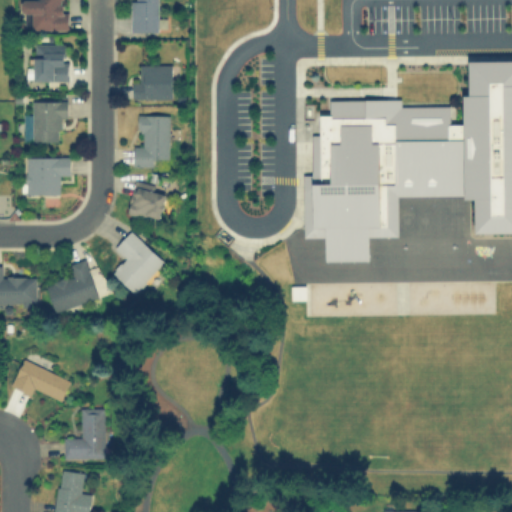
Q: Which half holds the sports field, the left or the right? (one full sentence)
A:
The sports field sits on the right side.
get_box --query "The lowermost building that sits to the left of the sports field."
[55,470,92,512]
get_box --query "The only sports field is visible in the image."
[255,282,512,512]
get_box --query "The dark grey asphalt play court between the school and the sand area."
[286,190,512,283]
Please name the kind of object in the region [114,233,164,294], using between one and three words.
house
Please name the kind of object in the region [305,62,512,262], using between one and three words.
building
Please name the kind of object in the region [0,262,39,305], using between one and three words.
house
